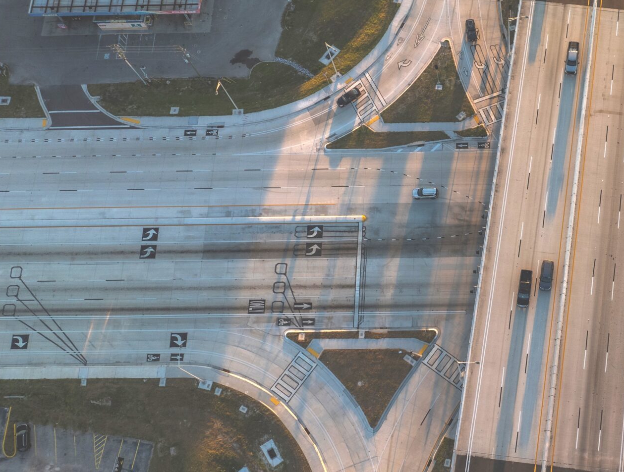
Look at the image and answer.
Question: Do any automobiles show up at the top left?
No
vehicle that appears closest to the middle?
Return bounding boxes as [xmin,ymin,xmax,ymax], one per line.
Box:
[413,187,439,200]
